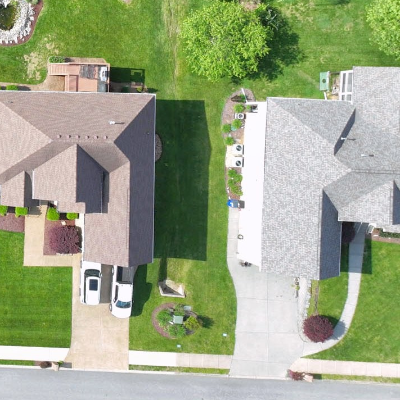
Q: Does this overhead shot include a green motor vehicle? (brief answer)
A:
No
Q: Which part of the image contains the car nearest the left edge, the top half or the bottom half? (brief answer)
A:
bottom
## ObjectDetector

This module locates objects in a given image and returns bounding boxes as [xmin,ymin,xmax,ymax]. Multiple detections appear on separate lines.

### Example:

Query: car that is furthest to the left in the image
[78,256,105,307]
